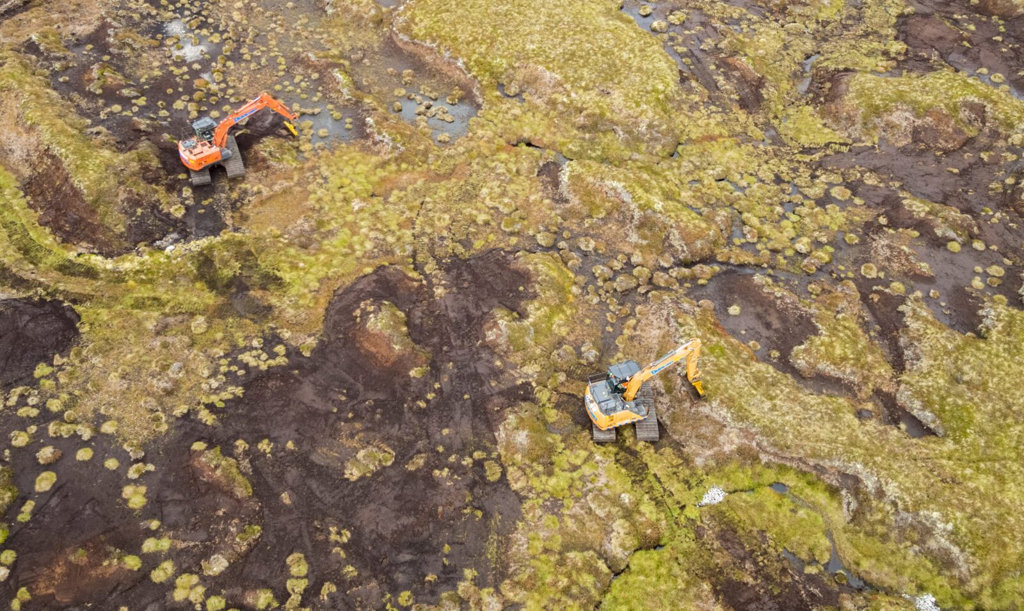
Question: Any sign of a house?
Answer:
No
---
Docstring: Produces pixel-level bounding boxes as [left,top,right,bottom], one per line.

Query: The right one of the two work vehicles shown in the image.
[588,335,708,443]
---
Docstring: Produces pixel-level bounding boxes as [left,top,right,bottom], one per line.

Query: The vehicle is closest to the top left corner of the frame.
[179,81,301,186]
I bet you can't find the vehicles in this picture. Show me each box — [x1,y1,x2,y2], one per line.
[588,335,708,443]
[179,81,301,186]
